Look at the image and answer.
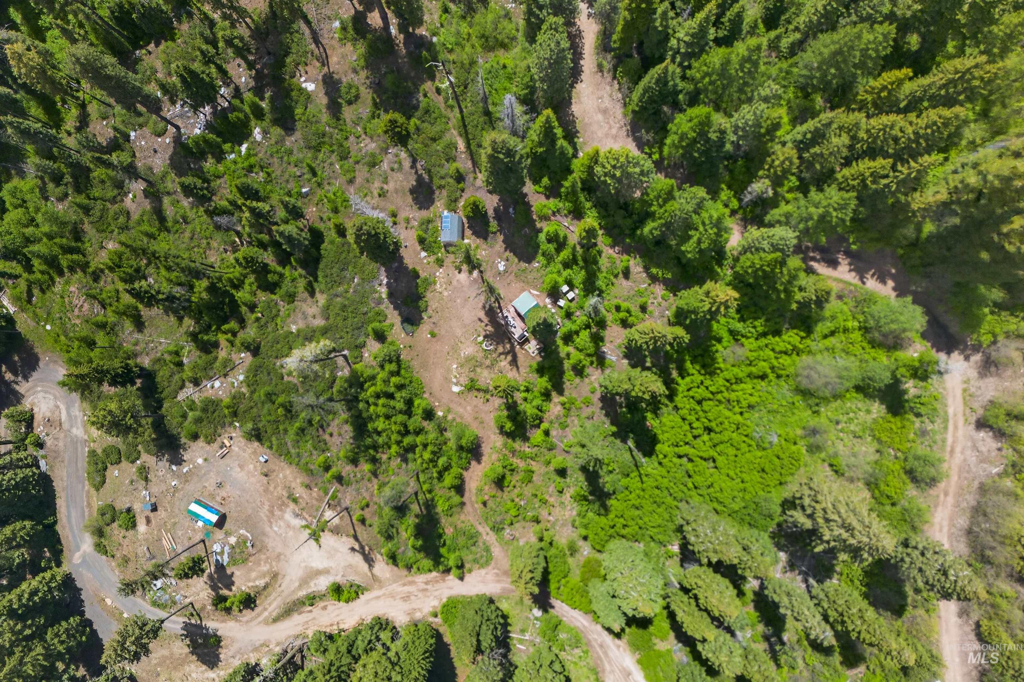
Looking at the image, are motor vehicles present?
No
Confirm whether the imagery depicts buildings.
Yes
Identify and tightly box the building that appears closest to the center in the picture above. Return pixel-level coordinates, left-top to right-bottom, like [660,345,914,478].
[510,286,541,318]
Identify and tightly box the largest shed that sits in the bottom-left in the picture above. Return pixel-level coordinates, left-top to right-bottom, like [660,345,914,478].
[189,497,228,527]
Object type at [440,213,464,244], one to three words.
shed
